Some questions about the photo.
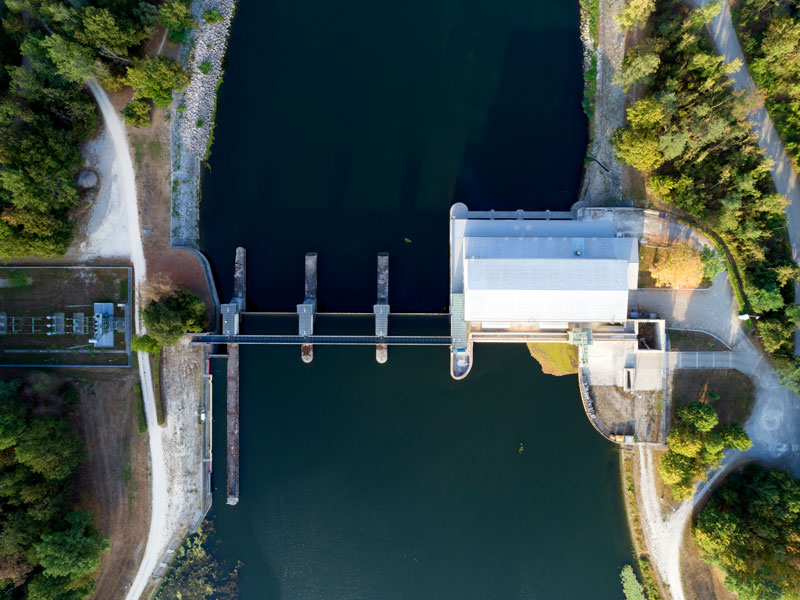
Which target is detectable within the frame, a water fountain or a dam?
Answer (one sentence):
Of the two, only a dam appears.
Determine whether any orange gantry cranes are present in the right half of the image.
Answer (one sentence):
No, no orange gantry crane appears in the right half of the image.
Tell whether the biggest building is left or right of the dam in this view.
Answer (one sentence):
In the image, the biggest building sits on the right side of the dam.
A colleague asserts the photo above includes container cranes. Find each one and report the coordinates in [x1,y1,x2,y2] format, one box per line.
[566,327,593,363]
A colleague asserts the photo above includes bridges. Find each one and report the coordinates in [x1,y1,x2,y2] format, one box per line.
[186,331,451,346]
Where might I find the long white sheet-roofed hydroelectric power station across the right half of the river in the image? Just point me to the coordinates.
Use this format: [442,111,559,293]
[446,203,640,380]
